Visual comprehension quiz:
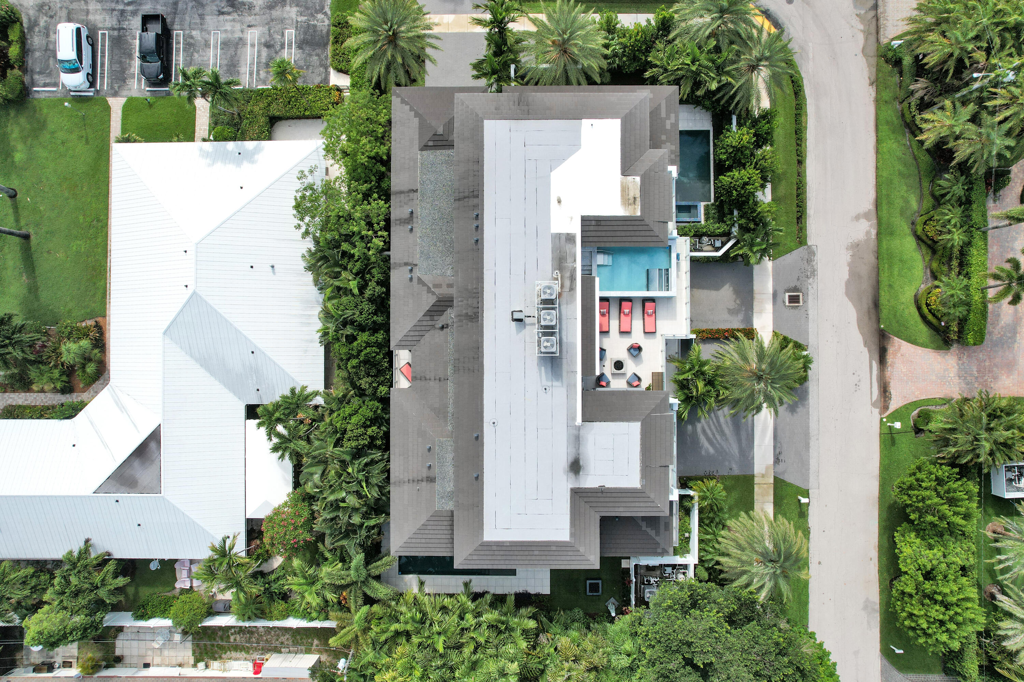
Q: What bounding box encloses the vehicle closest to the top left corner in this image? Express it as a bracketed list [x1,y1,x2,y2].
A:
[54,22,94,92]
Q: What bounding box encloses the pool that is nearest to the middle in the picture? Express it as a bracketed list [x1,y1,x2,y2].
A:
[590,239,676,298]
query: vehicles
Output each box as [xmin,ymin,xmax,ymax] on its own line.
[54,22,94,92]
[136,12,174,84]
